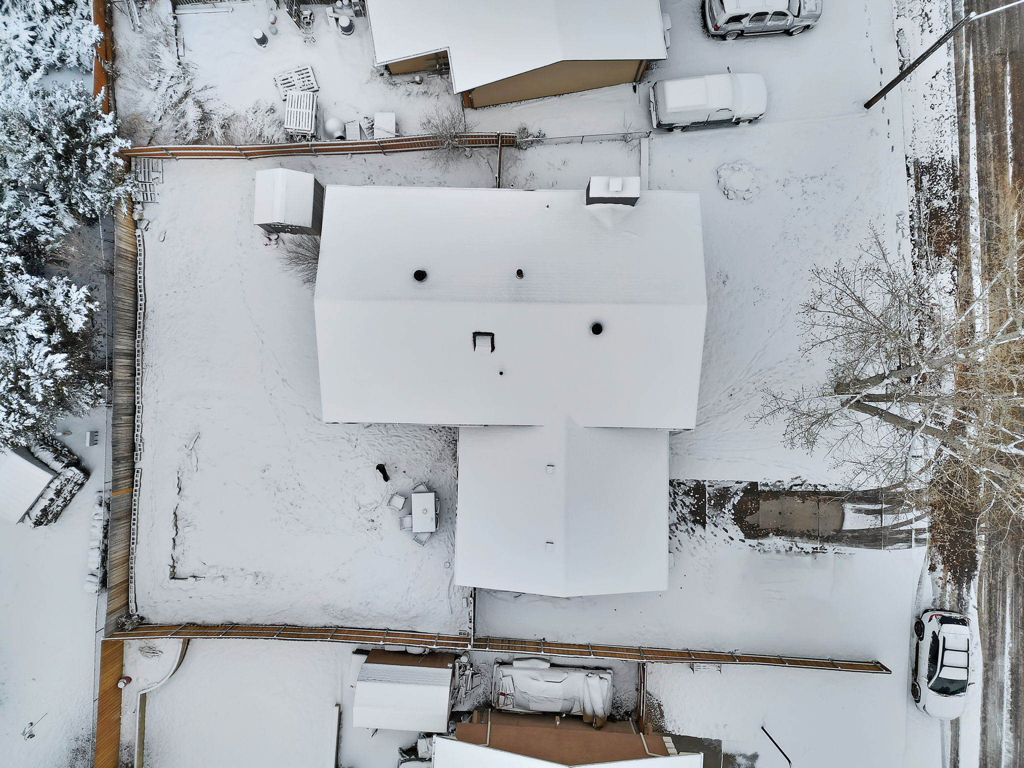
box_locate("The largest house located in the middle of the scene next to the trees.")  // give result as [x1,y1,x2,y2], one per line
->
[313,174,708,596]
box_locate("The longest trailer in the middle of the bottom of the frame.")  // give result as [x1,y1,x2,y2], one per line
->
[490,658,615,727]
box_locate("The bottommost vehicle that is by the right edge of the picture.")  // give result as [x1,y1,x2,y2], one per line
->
[911,603,977,717]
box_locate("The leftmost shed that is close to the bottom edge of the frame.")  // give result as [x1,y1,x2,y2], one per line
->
[353,646,454,734]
